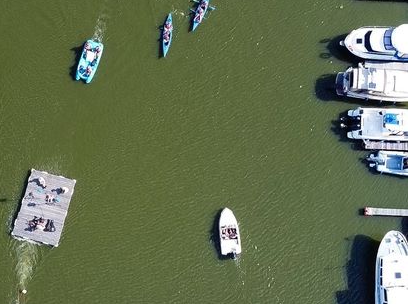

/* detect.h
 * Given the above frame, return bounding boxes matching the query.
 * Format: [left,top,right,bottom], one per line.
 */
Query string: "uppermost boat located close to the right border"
[338,24,408,64]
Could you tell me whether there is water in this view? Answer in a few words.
Yes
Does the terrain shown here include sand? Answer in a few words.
No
